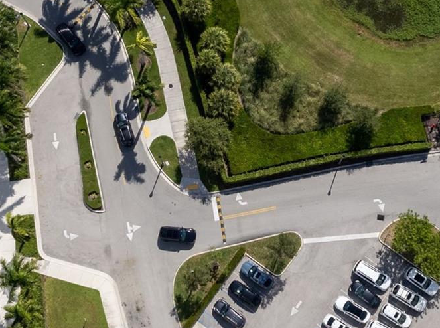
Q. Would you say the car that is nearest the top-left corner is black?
Yes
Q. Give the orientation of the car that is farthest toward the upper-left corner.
on a diagonal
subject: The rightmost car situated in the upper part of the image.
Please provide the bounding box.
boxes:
[113,110,134,145]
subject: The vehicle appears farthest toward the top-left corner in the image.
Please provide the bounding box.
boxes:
[55,22,86,53]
